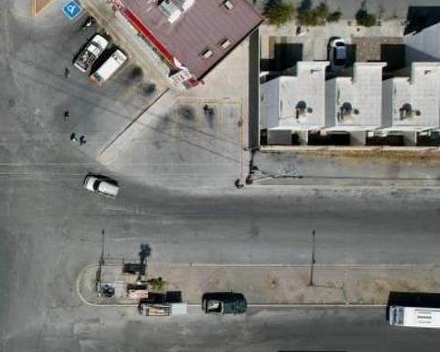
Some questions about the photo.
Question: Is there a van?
Yes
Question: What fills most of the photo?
paved ground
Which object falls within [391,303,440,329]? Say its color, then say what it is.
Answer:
white bus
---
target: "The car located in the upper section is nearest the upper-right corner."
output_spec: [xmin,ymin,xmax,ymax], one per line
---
[328,37,347,67]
